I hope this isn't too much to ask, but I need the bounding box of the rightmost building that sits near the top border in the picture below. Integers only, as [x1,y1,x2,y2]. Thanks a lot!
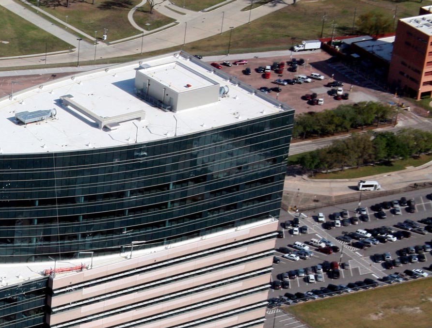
[388,5,432,99]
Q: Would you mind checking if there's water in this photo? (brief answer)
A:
No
